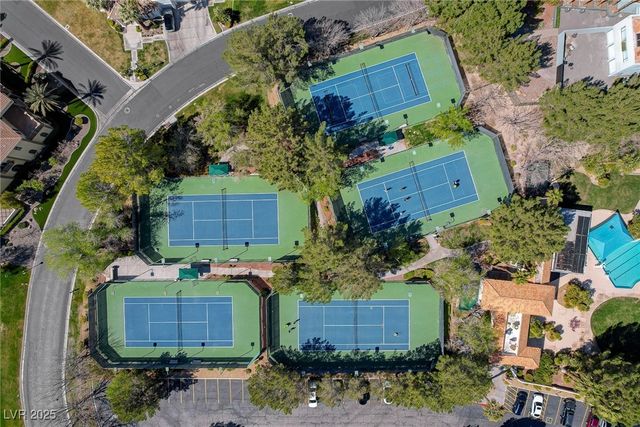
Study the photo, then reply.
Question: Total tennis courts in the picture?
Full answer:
There are 5 tennis courts in the image.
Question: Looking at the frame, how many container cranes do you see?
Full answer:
The photo contains no container cranes.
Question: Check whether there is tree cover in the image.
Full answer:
Yes, the picture does contain tree cover.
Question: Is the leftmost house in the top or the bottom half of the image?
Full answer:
The leftmost house is in the top half of the image.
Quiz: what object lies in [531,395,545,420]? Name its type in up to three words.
vehicle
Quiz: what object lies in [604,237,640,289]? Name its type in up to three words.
swimming pool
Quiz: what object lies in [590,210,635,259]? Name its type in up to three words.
swimming pool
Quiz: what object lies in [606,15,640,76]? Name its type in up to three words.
house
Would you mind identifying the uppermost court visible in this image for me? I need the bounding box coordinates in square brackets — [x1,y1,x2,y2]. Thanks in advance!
[279,31,461,157]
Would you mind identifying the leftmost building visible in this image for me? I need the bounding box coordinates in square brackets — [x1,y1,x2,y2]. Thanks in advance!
[0,83,58,190]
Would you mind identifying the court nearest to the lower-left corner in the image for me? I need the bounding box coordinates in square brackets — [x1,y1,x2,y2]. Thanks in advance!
[97,280,262,363]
